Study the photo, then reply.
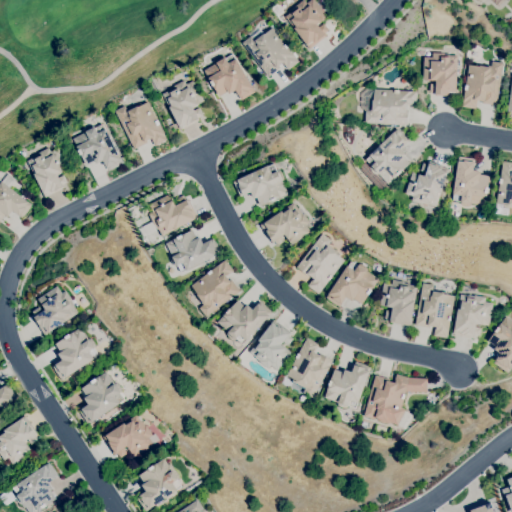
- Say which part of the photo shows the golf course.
top left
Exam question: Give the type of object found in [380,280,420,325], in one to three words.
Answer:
house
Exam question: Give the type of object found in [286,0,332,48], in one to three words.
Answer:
house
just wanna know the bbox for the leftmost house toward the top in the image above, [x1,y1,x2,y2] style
[0,173,32,222]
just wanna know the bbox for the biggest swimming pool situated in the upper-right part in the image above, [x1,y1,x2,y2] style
[382,68,400,83]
